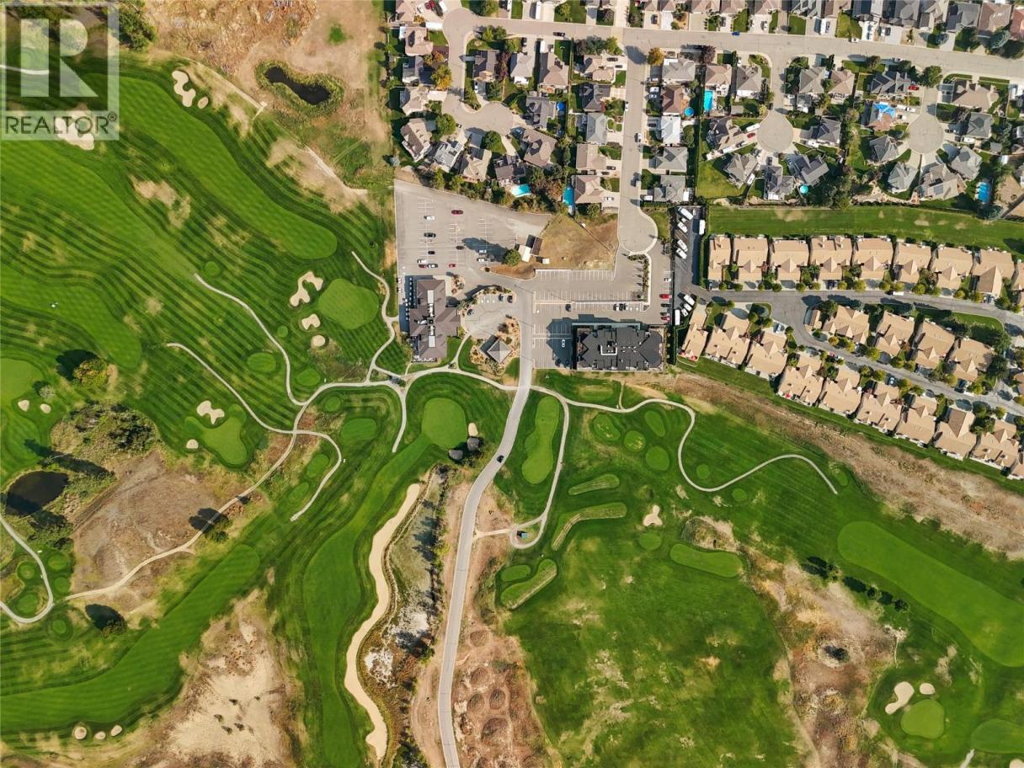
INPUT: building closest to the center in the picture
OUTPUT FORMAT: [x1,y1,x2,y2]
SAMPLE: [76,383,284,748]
[486,337,513,364]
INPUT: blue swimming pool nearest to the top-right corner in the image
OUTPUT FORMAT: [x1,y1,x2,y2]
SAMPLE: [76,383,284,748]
[977,180,992,201]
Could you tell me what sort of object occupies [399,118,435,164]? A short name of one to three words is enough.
house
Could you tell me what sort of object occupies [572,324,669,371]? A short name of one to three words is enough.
building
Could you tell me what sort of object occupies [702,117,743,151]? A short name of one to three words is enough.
house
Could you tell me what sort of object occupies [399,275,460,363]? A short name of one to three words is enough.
building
